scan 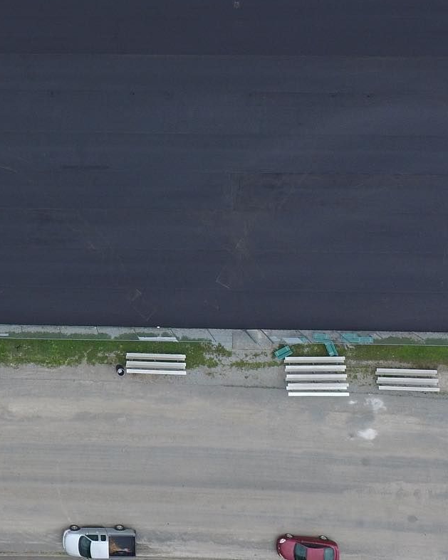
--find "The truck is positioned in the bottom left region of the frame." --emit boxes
[62,524,136,560]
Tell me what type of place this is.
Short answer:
sports ground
